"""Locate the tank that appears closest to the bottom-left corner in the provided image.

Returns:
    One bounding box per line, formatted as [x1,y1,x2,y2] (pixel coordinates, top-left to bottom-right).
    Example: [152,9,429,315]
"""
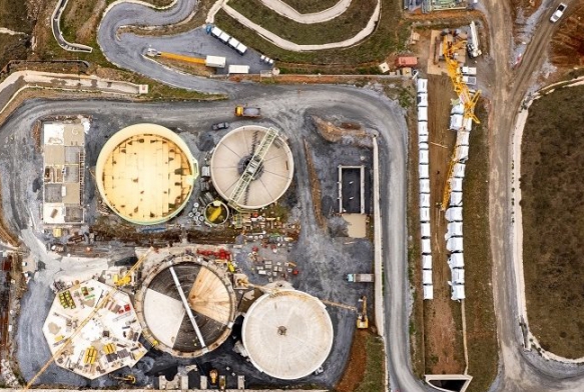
[136,258,237,357]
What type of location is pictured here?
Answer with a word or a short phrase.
industrial area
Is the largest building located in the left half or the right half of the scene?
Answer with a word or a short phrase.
left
